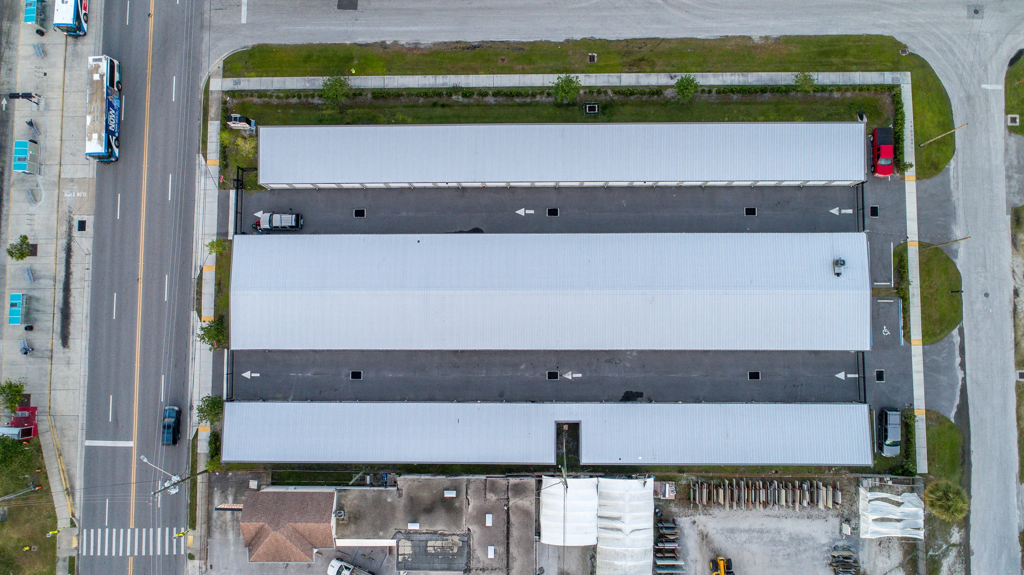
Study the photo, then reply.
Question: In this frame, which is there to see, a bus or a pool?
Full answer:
The one in the frame is a bus.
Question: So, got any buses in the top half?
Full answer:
Yes, the scene does show a bus in the top half.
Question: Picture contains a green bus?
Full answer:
No, there's no green bus here.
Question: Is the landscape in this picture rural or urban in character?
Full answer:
The land in this view is best described as urban.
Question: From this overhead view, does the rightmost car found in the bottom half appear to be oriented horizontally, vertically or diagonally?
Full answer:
The rightmost car found in the bottom half has been laid out vertically relative to the frame.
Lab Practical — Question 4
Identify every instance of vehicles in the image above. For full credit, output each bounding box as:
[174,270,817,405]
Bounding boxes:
[877,408,902,457]
[328,557,379,575]
[56,0,91,38]
[707,555,731,575]
[870,126,895,177]
[159,405,181,447]
[261,211,304,231]
[85,55,121,163]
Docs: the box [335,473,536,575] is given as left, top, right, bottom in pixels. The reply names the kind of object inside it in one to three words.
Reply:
building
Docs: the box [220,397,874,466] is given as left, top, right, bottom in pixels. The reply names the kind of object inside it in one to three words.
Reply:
building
